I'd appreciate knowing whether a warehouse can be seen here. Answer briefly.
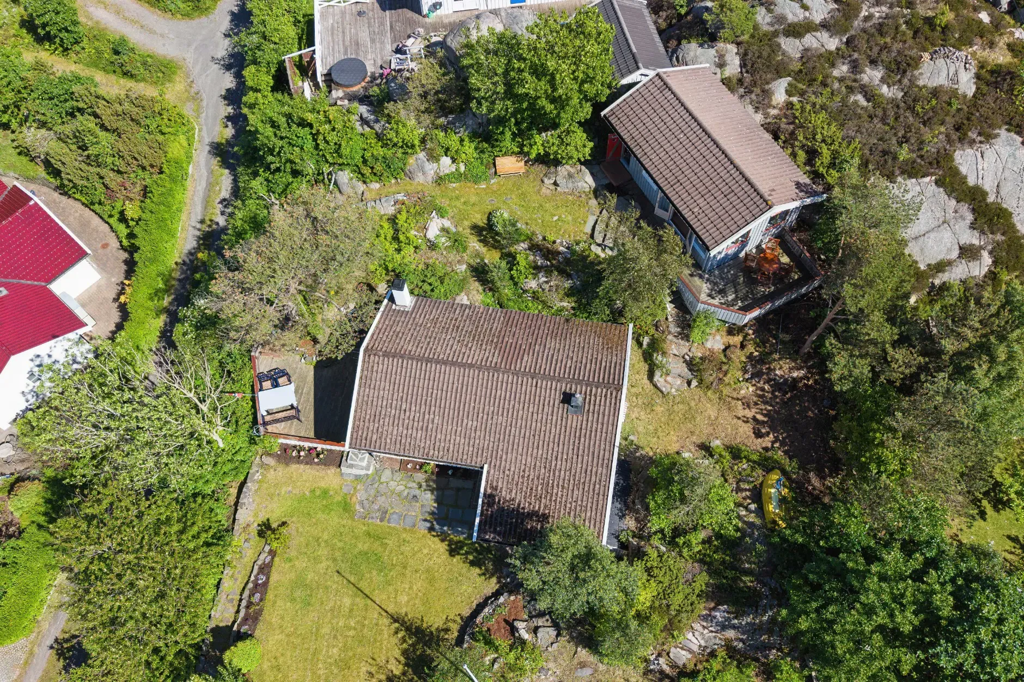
No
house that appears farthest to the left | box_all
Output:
[0,181,113,432]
